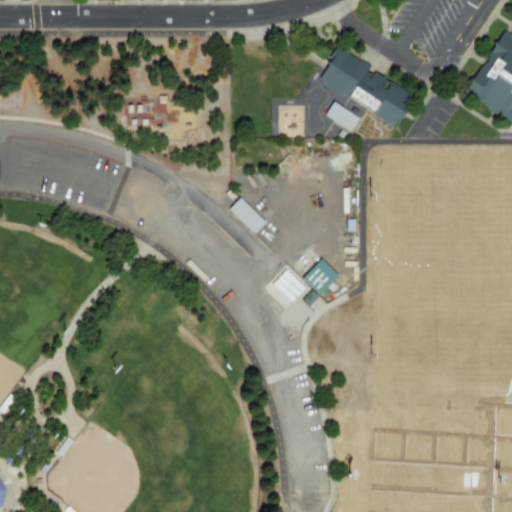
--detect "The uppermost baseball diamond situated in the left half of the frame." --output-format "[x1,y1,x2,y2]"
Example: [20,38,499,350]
[0,352,25,408]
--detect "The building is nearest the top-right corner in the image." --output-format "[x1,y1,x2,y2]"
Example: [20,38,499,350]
[470,31,512,121]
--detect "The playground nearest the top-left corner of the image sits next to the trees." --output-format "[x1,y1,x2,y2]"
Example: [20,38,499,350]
[124,96,200,137]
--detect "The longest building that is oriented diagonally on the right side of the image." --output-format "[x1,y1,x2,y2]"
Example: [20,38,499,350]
[322,48,411,128]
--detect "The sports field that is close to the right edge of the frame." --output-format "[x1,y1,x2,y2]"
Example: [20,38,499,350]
[308,142,512,512]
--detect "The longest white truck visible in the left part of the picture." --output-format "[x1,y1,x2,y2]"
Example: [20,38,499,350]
[188,260,214,284]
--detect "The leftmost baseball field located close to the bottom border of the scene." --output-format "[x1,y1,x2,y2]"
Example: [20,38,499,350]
[48,422,138,512]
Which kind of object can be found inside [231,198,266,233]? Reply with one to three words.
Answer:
shed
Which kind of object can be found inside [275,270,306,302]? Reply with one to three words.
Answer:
building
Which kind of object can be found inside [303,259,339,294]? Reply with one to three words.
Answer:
building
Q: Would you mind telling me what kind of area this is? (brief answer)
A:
sports ground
